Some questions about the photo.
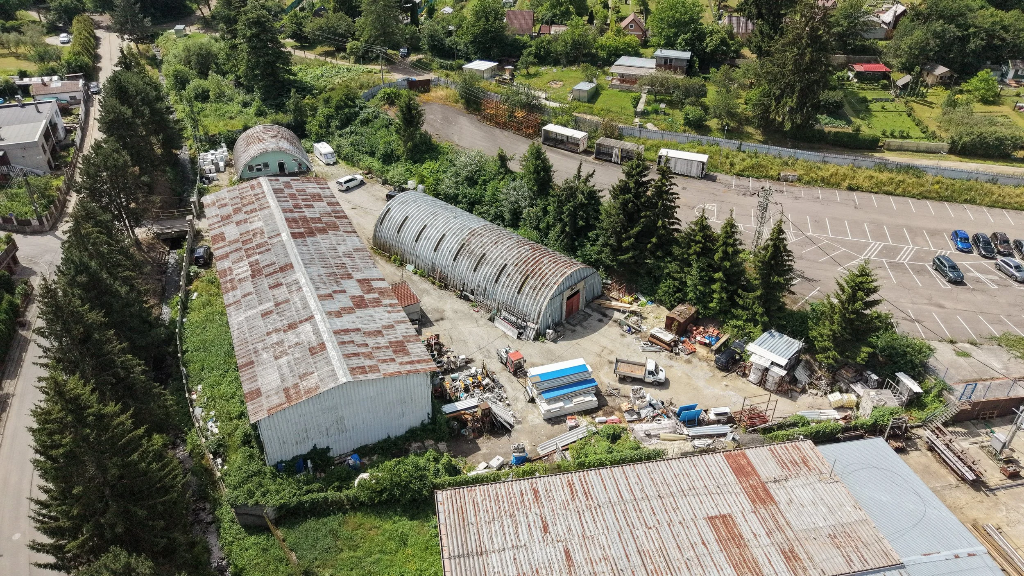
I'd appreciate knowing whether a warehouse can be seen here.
Yes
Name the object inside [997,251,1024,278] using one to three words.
car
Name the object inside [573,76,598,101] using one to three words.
shed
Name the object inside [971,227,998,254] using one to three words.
car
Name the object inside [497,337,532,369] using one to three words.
vehicle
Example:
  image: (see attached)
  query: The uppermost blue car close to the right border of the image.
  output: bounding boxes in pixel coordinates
[949,226,974,248]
